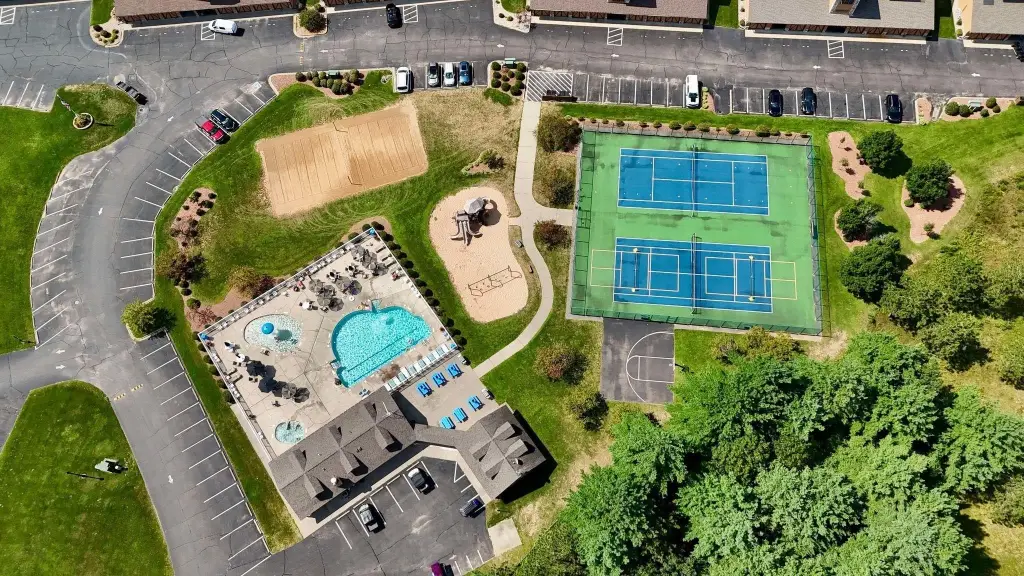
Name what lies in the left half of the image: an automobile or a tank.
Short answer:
automobile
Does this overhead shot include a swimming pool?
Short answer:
Yes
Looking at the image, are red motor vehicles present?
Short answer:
Yes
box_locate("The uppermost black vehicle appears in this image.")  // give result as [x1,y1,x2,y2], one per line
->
[386,5,400,29]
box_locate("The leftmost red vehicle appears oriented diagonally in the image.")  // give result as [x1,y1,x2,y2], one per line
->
[197,116,227,142]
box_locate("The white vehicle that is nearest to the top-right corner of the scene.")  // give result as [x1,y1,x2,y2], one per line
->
[685,72,700,109]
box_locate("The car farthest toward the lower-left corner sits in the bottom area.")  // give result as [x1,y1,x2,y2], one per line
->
[358,500,383,533]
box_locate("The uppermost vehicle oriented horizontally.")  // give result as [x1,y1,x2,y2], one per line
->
[209,20,240,36]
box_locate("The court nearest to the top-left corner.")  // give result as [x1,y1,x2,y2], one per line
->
[256,99,428,217]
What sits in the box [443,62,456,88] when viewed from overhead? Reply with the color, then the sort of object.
white vehicle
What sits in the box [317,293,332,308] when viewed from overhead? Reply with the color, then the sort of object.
gray umbrella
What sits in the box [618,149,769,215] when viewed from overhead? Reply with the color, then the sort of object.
blue tennis court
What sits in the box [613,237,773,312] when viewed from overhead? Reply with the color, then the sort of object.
blue tennis court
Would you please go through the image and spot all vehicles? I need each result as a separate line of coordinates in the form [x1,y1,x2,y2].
[209,20,240,36]
[386,5,400,29]
[1007,40,1024,65]
[428,557,448,576]
[800,87,816,115]
[396,68,409,94]
[456,494,488,521]
[427,62,440,87]
[768,90,782,118]
[443,62,456,88]
[212,110,238,133]
[197,116,227,142]
[358,500,383,533]
[685,72,700,109]
[407,466,433,497]
[885,94,902,123]
[458,61,471,86]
